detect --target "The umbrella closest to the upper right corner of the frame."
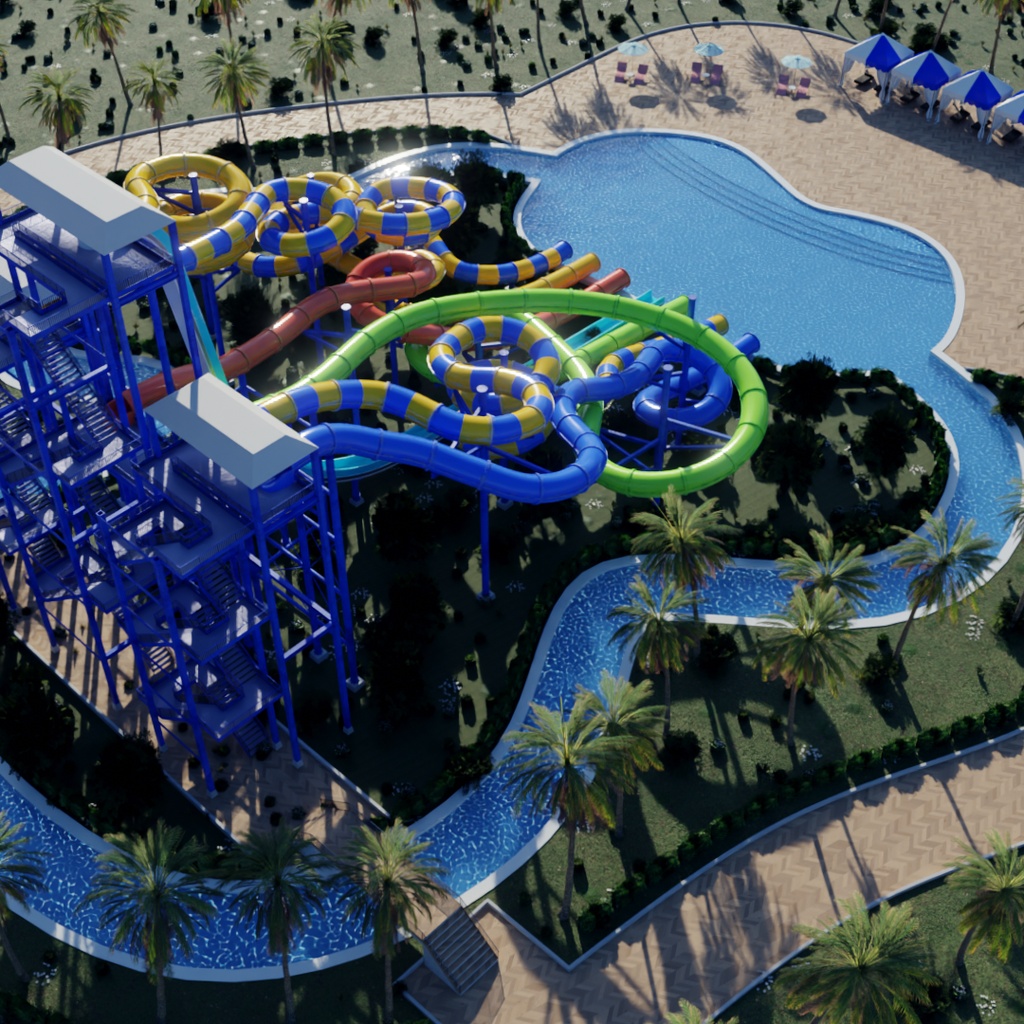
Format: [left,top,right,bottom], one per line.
[781,55,814,85]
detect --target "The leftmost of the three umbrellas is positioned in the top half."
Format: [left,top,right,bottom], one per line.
[616,43,649,72]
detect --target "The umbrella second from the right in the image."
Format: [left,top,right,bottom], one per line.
[692,42,727,72]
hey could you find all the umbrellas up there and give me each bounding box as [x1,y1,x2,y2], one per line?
[692,42,727,72]
[616,43,649,72]
[781,55,814,85]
